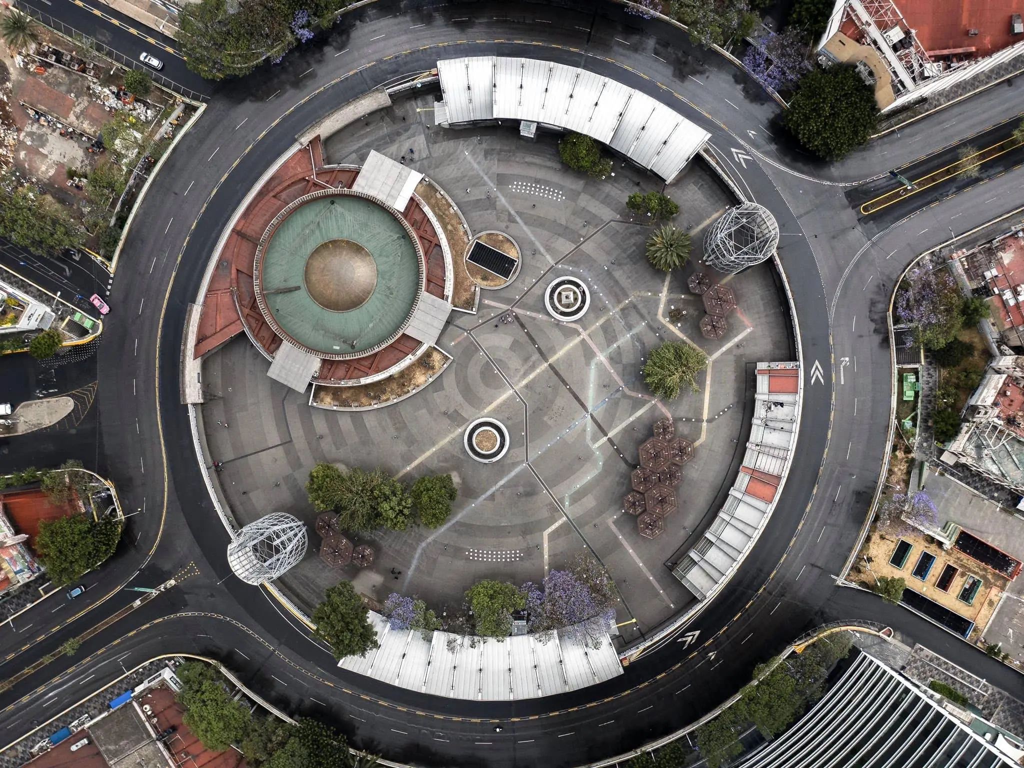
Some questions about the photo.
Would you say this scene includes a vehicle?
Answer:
Yes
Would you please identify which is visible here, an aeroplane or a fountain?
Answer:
fountain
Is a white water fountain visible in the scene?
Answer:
Yes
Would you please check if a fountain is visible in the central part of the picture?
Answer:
Yes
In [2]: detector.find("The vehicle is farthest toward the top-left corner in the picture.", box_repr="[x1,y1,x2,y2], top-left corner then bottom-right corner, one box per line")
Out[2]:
[138,51,162,69]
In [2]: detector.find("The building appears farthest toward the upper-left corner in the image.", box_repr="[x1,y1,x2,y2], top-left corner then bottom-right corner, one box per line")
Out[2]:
[0,282,56,335]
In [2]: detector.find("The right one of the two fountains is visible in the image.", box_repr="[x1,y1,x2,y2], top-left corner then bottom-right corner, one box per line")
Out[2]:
[546,277,589,320]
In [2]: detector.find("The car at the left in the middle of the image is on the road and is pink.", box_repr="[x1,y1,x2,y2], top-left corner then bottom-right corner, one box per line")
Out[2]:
[88,291,108,315]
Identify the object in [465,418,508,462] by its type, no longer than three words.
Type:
fountain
